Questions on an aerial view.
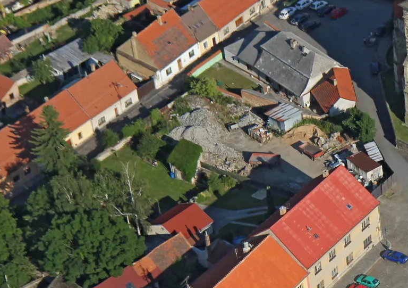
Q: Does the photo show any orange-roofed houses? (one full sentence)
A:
Yes, an orange-roofed house appears in the view.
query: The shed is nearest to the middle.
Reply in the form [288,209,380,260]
[166,133,202,181]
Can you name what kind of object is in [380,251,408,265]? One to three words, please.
car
